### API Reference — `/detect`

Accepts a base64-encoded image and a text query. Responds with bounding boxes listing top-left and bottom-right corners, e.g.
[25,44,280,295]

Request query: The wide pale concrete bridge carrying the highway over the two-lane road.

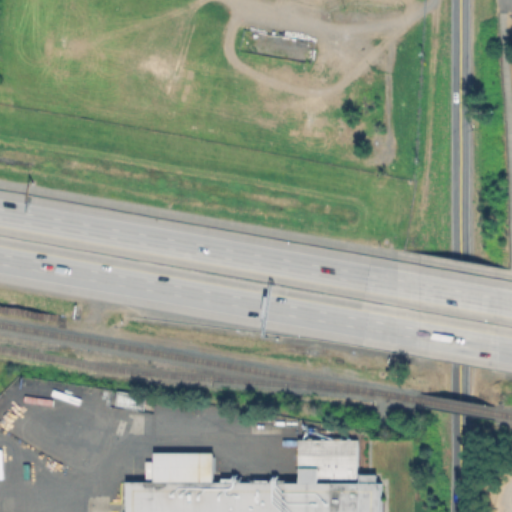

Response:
[386,250,512,374]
